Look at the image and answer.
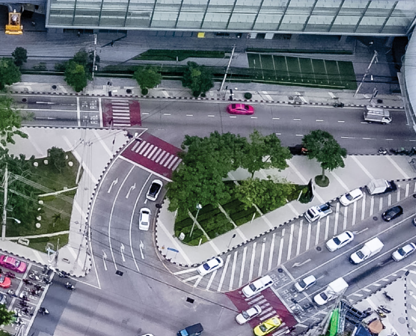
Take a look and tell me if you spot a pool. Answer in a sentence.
No, this view has no pool in it.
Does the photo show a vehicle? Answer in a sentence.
Yes, there's a vehicle here.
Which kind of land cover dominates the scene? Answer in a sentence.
For the most part, this view shows paved ground.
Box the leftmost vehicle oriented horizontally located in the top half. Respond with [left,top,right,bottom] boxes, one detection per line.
[227,104,254,116]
